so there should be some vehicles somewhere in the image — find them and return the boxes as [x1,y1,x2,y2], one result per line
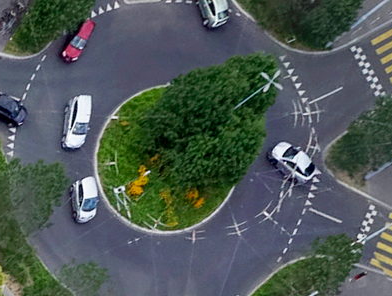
[59,17,98,66]
[270,144,319,184]
[62,96,92,147]
[71,176,100,220]
[0,87,29,126]
[196,0,232,28]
